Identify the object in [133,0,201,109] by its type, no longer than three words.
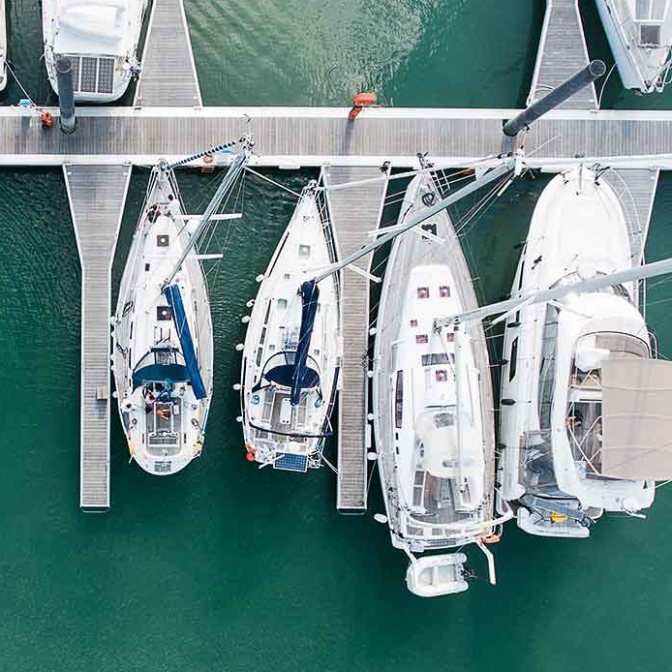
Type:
pier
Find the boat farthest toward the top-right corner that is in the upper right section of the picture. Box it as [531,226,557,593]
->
[588,0,672,101]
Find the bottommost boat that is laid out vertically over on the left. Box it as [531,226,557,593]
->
[112,107,262,476]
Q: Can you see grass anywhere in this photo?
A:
No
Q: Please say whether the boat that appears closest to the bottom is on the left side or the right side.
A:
right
